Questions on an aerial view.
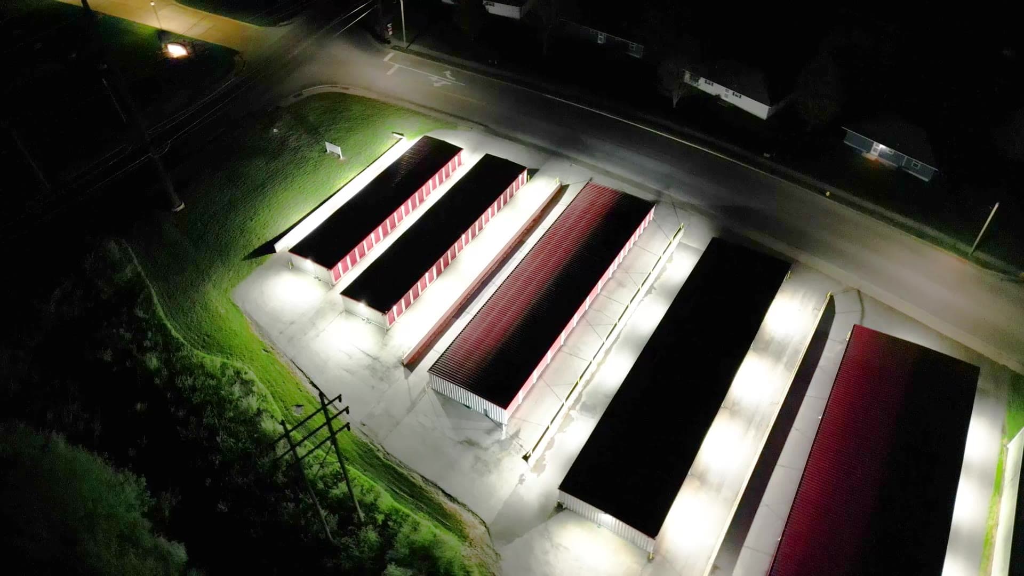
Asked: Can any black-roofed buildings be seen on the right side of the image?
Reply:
Yes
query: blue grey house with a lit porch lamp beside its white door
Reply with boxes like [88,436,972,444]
[844,103,969,181]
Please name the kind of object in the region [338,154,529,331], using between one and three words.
building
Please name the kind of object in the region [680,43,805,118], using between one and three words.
house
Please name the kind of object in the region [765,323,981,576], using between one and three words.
building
